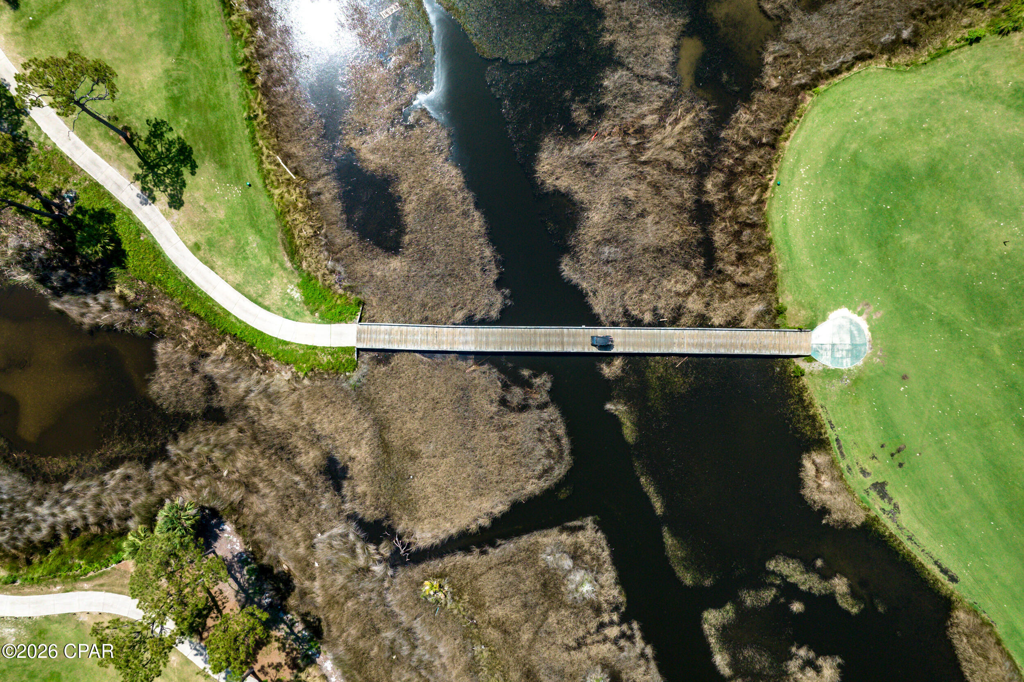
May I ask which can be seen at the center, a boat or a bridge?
bridge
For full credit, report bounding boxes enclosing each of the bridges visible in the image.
[355,304,813,362]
